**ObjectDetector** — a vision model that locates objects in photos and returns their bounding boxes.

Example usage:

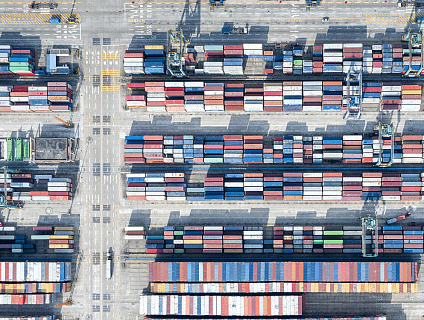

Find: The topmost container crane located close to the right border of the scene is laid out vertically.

[400,27,424,78]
